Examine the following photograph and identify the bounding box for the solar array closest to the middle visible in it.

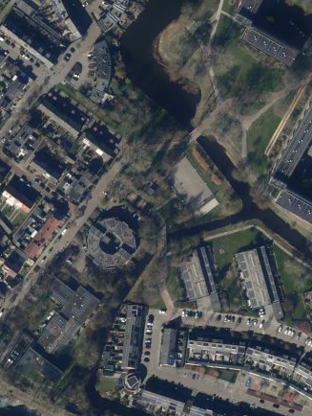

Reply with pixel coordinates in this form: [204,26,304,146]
[183,259,204,299]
